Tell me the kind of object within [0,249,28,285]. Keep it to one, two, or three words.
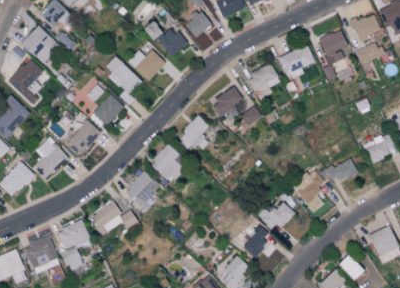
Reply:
house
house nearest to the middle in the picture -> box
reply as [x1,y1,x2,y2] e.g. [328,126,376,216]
[180,118,208,149]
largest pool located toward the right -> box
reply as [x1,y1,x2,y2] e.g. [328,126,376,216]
[384,62,398,77]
